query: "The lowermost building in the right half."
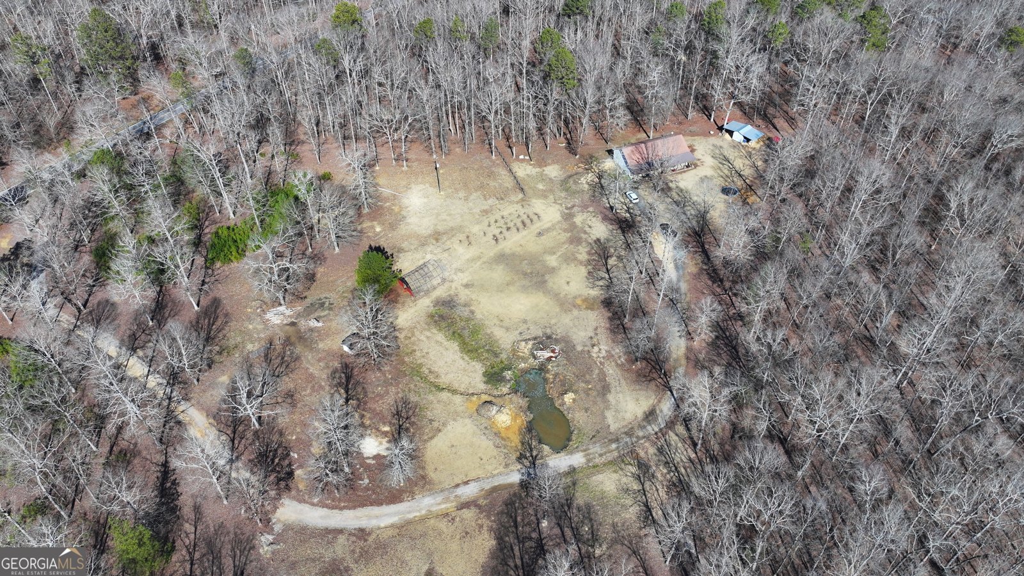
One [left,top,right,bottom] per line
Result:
[613,136,698,180]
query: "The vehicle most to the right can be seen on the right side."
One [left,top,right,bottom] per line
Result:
[626,191,641,203]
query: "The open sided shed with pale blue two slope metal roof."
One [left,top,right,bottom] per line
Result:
[721,120,762,146]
